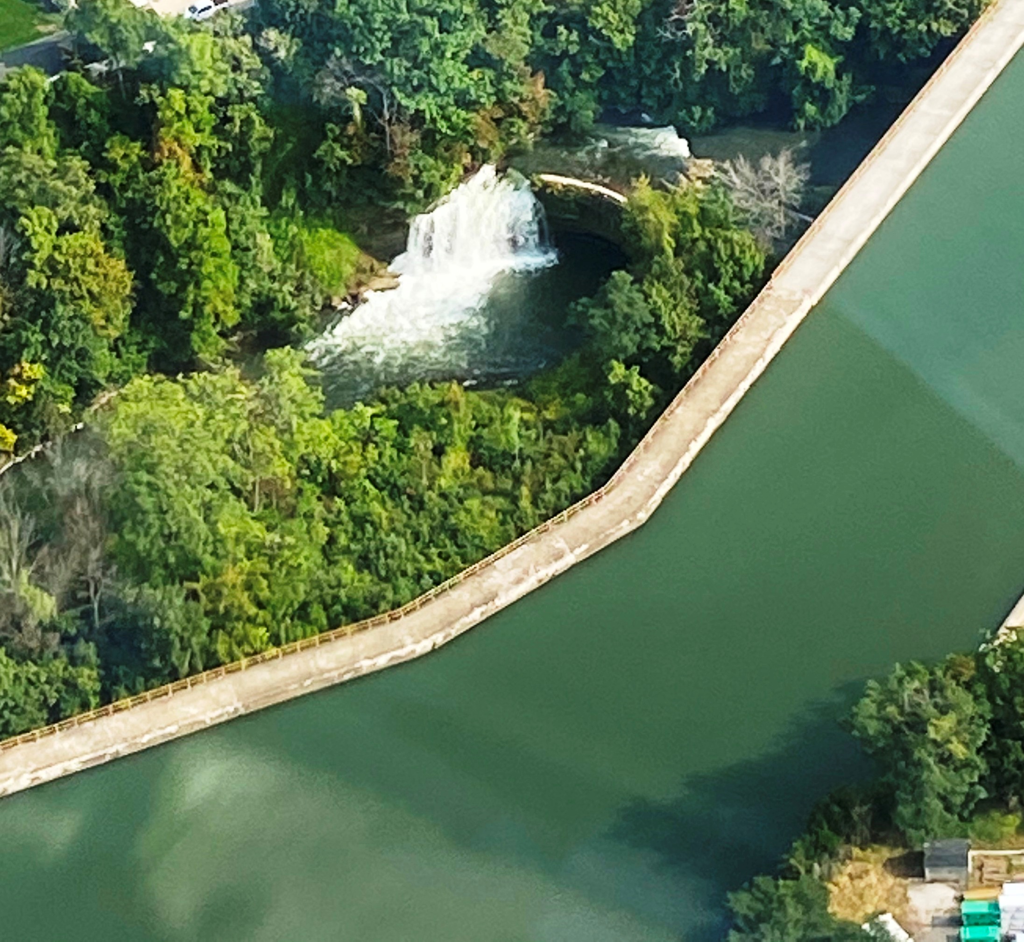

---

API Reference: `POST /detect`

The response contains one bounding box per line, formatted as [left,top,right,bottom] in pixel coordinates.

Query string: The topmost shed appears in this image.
[920,836,970,880]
